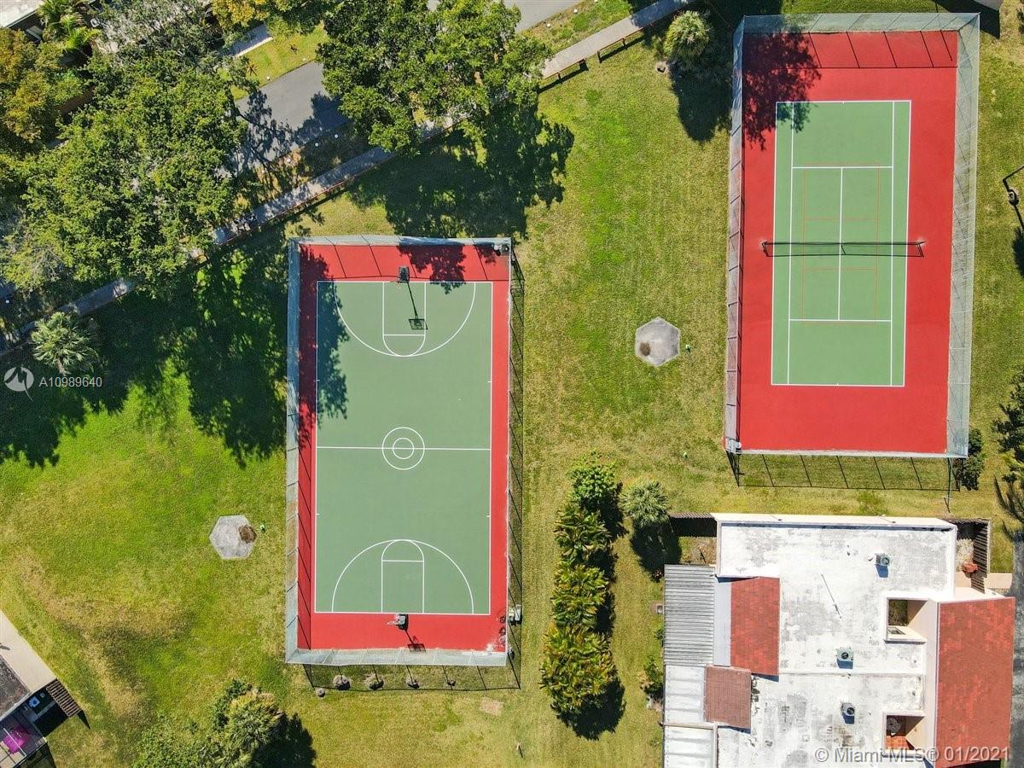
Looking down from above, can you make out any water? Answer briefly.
No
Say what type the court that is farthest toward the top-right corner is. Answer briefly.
tennis court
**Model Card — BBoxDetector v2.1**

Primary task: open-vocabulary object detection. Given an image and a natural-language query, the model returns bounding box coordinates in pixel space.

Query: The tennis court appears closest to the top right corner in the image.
[724,29,960,453]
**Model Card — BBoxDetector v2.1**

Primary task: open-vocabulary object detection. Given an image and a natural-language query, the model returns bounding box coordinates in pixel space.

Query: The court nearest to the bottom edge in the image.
[295,243,511,654]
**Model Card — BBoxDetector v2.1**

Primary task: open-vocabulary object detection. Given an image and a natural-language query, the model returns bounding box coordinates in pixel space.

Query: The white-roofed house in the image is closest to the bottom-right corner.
[660,514,1016,768]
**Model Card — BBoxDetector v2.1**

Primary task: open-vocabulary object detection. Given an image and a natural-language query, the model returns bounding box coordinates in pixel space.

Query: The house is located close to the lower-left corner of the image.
[0,611,56,728]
